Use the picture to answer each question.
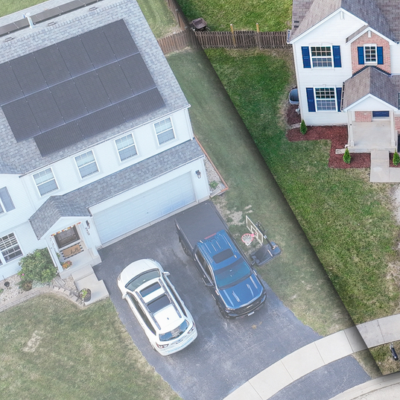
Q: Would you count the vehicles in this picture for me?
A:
two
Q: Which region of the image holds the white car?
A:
bottom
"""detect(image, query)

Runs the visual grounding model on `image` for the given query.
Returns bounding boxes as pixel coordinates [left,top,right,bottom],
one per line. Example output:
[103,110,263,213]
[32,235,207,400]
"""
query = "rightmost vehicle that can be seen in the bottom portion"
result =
[176,204,267,323]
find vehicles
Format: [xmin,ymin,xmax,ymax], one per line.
[176,204,267,323]
[125,257,198,360]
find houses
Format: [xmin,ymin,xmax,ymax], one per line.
[289,0,400,166]
[0,0,225,302]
